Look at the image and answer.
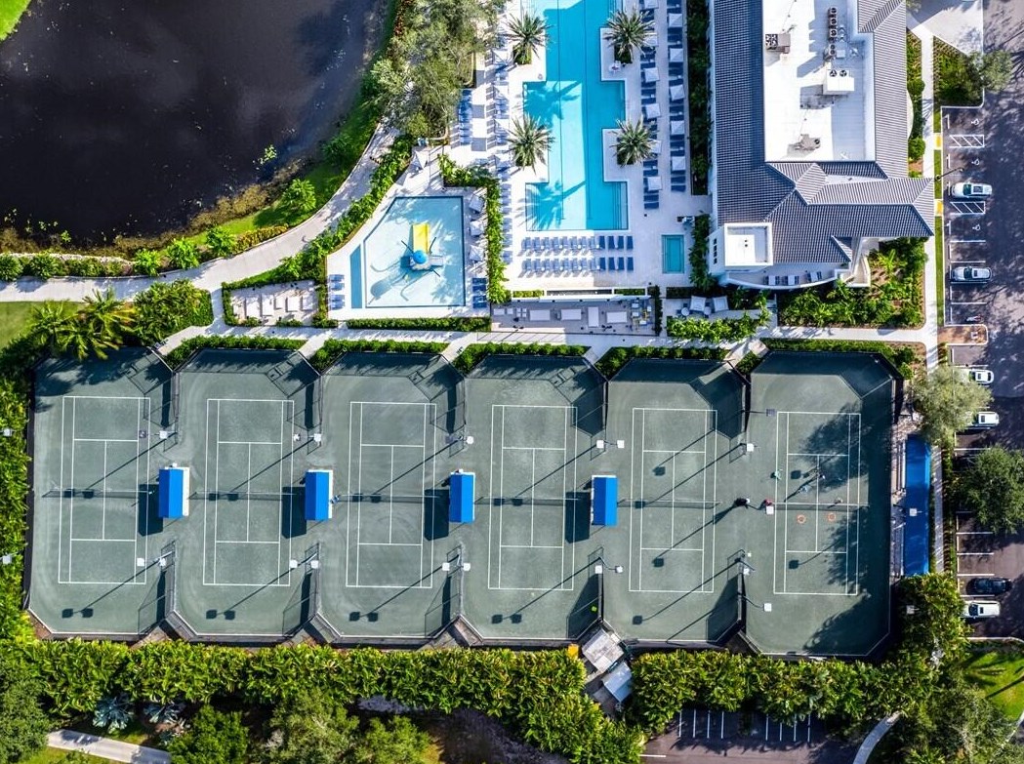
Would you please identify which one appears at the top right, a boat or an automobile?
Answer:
automobile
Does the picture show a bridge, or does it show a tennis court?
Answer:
tennis court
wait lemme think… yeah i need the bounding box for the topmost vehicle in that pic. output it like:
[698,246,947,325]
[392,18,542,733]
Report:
[948,181,992,200]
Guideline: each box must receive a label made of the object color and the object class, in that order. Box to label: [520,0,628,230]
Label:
blue swimming pool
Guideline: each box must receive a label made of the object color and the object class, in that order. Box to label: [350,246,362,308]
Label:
blue swimming pool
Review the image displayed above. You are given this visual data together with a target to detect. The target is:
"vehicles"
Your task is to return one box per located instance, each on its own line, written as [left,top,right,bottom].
[948,181,992,200]
[963,599,1000,619]
[960,412,1001,429]
[966,316,983,322]
[965,577,1011,595]
[954,367,993,383]
[949,265,991,283]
